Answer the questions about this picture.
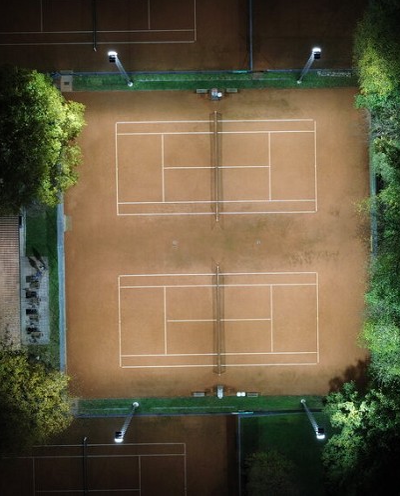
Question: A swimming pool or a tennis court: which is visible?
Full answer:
It is a tennis court that can be seen here.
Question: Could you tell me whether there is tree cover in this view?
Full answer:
Yes, tree cover can be seen from above here.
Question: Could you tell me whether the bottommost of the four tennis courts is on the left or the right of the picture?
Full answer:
The bottommost of the four tennis courts sits on the left side.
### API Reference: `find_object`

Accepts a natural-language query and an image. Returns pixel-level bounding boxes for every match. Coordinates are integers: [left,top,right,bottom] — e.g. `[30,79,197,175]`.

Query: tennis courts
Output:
[0,416,239,496]
[66,241,372,400]
[63,87,371,245]
[0,0,249,73]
